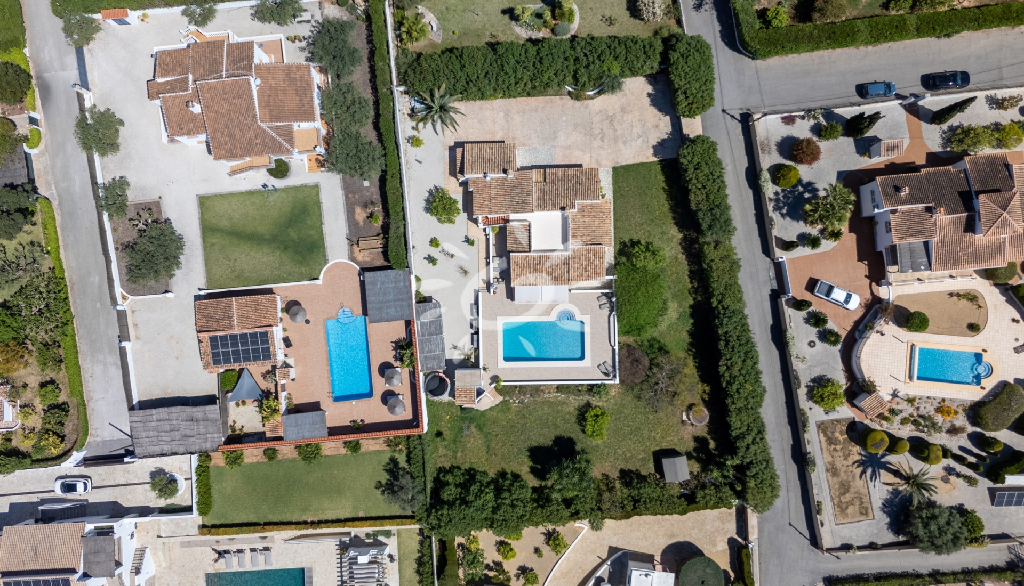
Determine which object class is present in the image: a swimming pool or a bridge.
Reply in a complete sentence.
It is a swimming pool that can be seen here.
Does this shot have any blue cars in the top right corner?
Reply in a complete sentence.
Yes, there is a blue car in the top right corner.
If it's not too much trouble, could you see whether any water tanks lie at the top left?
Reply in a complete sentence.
No, no water tank can be made out at the top left.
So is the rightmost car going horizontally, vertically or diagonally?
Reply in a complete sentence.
The rightmost car is oriented horizontally.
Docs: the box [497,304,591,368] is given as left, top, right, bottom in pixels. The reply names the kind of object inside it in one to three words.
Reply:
swimming pool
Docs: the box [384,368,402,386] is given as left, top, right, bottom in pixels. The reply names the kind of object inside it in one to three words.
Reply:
umbrella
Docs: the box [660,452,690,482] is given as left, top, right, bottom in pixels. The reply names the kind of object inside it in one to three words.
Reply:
shed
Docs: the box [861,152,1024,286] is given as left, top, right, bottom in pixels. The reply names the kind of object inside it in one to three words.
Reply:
house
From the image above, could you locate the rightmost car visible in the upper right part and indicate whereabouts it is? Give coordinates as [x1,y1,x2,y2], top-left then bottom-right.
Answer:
[925,69,967,90]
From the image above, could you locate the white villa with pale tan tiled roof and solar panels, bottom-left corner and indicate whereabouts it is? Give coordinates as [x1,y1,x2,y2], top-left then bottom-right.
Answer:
[0,512,160,586]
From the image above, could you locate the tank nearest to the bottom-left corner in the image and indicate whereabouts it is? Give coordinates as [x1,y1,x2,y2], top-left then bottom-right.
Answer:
[425,371,451,397]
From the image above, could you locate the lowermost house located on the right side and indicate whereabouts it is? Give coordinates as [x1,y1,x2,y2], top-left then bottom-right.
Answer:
[579,546,674,586]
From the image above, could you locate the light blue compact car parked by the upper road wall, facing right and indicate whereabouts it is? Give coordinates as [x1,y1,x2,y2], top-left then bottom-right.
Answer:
[859,79,893,99]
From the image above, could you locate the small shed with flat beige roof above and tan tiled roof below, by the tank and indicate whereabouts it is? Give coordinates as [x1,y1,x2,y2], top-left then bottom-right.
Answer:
[455,367,482,405]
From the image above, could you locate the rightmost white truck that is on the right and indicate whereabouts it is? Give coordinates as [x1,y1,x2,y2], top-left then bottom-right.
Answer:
[811,280,858,308]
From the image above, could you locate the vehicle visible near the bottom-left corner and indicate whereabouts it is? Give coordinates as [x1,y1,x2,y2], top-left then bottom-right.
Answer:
[56,476,93,495]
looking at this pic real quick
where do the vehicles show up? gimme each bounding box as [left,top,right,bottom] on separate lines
[811,280,858,308]
[859,79,893,99]
[925,69,967,90]
[56,476,93,495]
